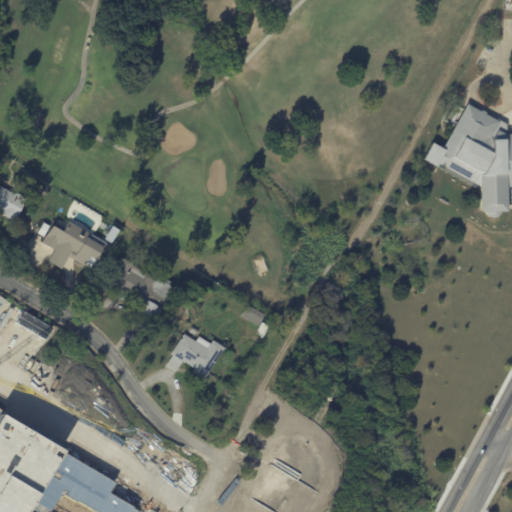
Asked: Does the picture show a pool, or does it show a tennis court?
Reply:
pool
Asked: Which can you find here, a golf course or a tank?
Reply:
golf course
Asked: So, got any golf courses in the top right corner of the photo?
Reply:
No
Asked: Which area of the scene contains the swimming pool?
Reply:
left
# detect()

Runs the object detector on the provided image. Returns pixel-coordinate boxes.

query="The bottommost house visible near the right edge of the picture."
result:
[426,102,512,218]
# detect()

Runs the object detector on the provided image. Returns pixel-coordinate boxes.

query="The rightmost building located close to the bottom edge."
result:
[40,454,150,512]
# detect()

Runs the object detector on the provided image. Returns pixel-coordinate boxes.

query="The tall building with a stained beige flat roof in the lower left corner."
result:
[0,414,70,512]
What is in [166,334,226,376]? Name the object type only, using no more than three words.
house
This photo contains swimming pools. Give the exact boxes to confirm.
[67,201,102,231]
